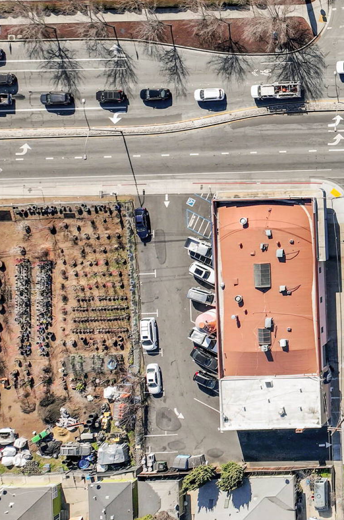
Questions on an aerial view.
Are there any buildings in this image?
Yes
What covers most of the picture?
paved ground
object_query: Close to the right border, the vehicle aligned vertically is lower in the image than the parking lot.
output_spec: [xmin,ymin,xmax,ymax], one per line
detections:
[313,477,329,508]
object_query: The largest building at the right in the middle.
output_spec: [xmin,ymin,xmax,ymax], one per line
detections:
[213,196,332,379]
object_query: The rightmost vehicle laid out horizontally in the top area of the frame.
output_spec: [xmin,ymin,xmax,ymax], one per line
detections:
[250,82,303,97]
